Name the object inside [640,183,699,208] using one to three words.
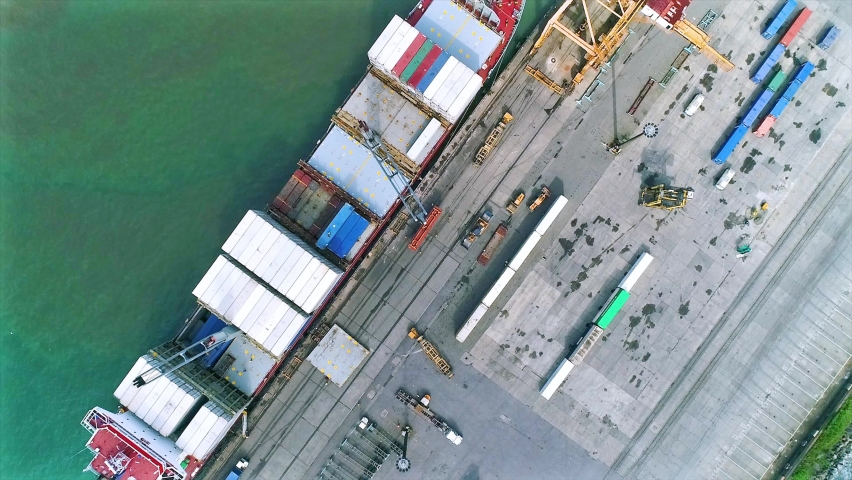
work vehicle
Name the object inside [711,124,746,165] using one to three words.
shipping container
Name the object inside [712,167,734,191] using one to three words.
vehicle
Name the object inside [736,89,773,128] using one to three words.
shipping container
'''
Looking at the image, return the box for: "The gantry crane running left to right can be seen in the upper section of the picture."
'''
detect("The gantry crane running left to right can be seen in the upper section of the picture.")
[522,0,738,96]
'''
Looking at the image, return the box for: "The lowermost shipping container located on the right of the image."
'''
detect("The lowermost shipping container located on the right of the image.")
[542,355,576,397]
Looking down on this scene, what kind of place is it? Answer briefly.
port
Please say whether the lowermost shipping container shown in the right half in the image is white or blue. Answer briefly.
white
